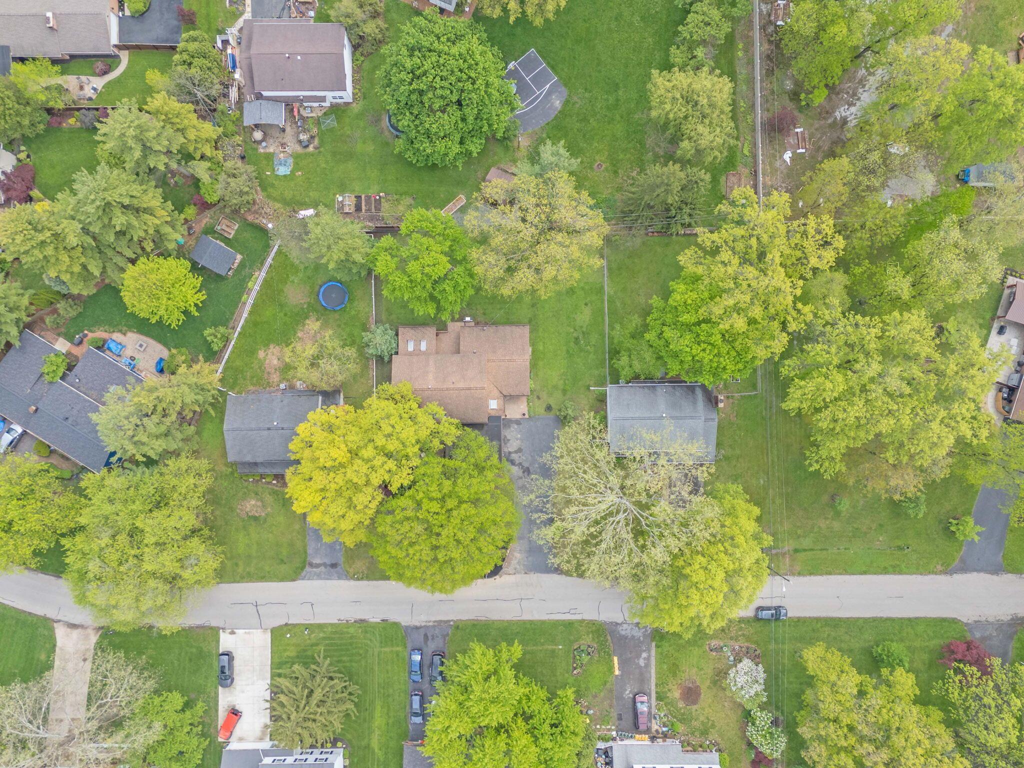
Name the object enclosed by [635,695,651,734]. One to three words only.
car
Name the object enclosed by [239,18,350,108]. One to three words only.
house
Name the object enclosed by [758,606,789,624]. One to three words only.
car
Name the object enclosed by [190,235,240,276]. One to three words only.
shed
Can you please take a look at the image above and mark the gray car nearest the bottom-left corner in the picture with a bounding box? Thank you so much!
[215,652,233,688]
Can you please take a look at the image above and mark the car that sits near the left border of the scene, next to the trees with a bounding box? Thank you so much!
[0,424,22,458]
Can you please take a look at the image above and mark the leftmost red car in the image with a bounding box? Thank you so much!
[216,709,240,744]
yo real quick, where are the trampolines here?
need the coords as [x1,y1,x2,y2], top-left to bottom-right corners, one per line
[315,278,347,310]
